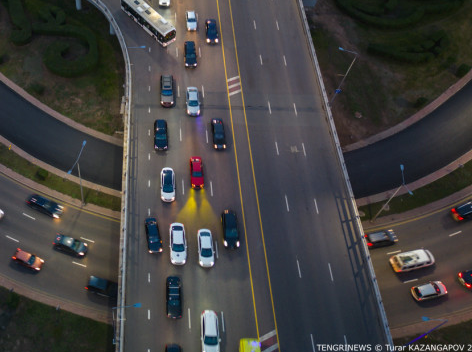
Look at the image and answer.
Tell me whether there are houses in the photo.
No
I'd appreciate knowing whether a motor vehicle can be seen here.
Yes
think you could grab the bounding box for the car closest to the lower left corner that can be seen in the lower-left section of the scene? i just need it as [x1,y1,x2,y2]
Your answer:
[11,248,45,272]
